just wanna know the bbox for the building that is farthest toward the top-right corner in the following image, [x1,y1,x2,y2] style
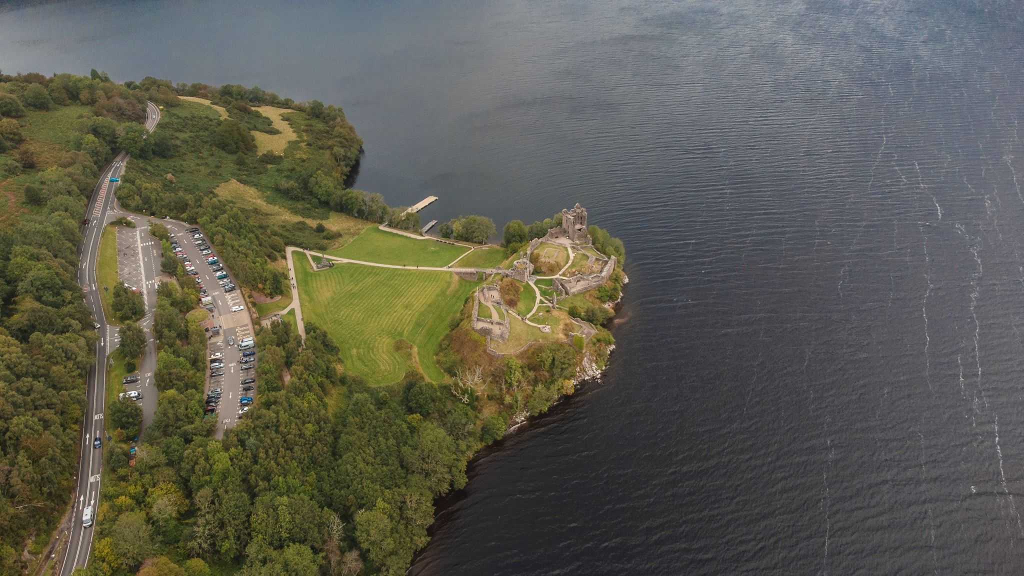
[561,204,590,243]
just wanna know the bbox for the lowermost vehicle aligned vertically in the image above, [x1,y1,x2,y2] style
[84,505,96,528]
